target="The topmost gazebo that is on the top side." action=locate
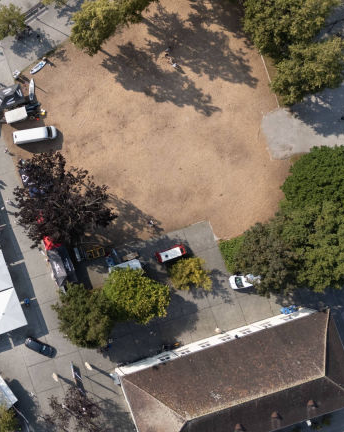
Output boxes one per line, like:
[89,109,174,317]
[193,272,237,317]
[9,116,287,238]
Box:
[0,84,25,111]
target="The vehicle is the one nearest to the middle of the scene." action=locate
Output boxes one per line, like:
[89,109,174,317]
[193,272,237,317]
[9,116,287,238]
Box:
[150,241,187,264]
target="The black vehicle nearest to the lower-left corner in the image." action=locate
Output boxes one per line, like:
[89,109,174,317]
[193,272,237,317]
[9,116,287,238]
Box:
[23,333,58,359]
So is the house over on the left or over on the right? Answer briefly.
right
